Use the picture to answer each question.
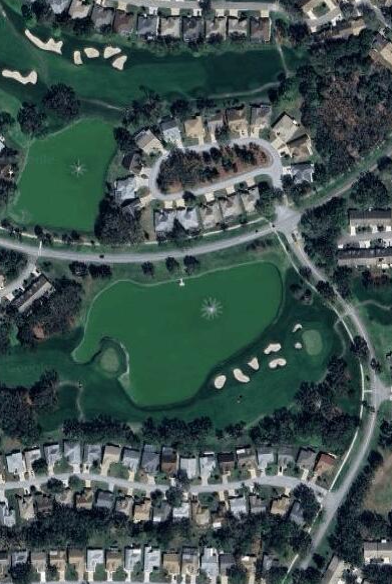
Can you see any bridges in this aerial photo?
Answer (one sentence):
No, the picture doesn't show any bridge.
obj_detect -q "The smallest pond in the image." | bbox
[14,117,114,229]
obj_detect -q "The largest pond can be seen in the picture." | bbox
[76,262,281,404]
